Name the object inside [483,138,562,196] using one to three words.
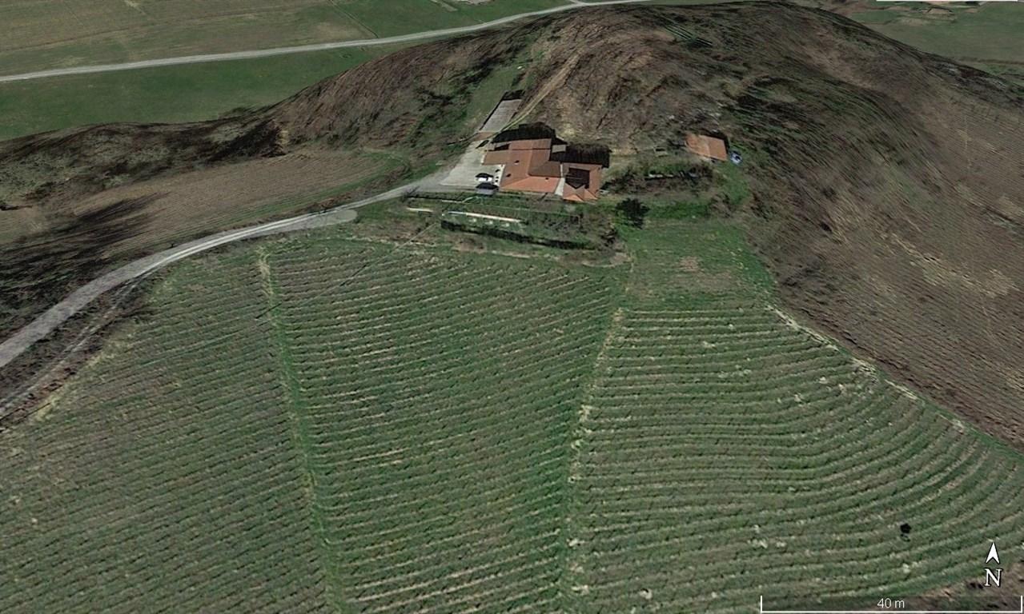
house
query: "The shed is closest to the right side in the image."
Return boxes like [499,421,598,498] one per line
[686,133,727,164]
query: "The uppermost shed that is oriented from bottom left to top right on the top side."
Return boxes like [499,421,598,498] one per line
[481,99,521,136]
